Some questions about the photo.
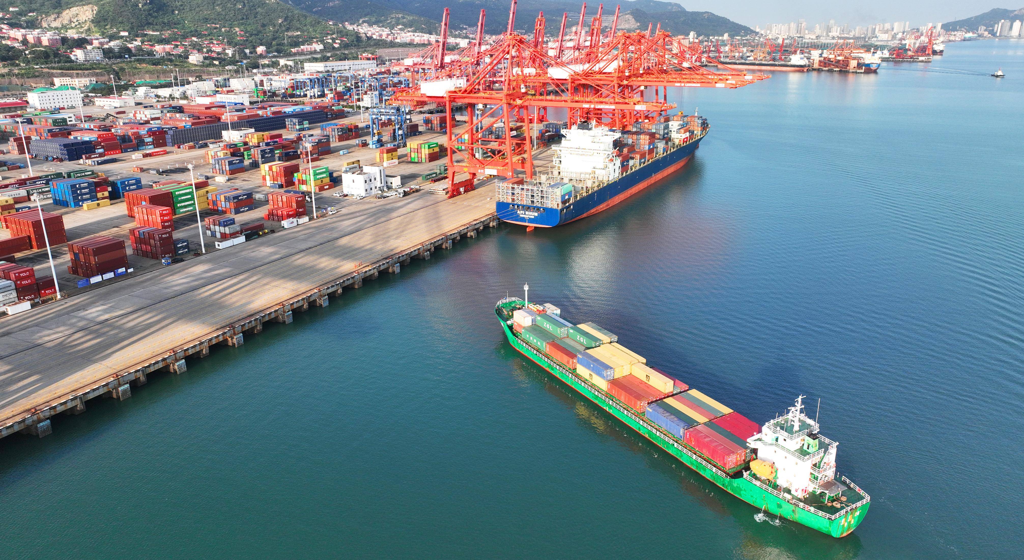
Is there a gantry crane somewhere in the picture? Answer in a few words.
Yes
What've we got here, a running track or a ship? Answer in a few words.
ship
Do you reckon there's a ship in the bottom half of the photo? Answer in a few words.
Yes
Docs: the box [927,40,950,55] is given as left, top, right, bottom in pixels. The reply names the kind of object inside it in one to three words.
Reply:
ship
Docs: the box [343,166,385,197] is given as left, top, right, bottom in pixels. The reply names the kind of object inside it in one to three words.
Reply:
building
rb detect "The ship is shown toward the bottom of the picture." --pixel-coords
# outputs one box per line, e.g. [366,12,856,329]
[495,282,874,540]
